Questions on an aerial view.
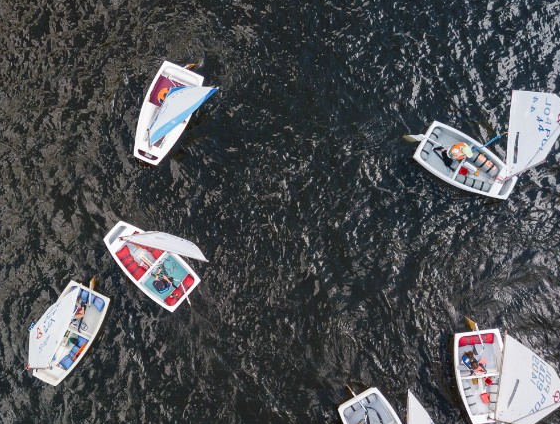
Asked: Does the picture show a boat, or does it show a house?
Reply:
boat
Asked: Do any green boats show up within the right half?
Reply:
No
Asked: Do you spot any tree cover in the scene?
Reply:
No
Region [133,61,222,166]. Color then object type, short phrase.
white boat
